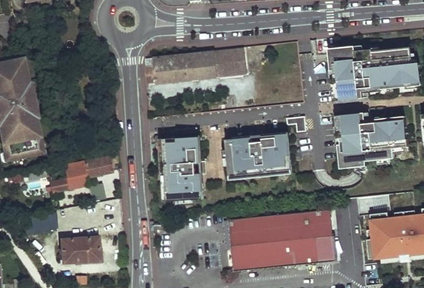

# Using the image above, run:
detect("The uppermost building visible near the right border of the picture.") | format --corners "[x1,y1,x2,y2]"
[327,47,421,102]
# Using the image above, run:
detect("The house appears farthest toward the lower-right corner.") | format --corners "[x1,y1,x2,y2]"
[367,208,424,264]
